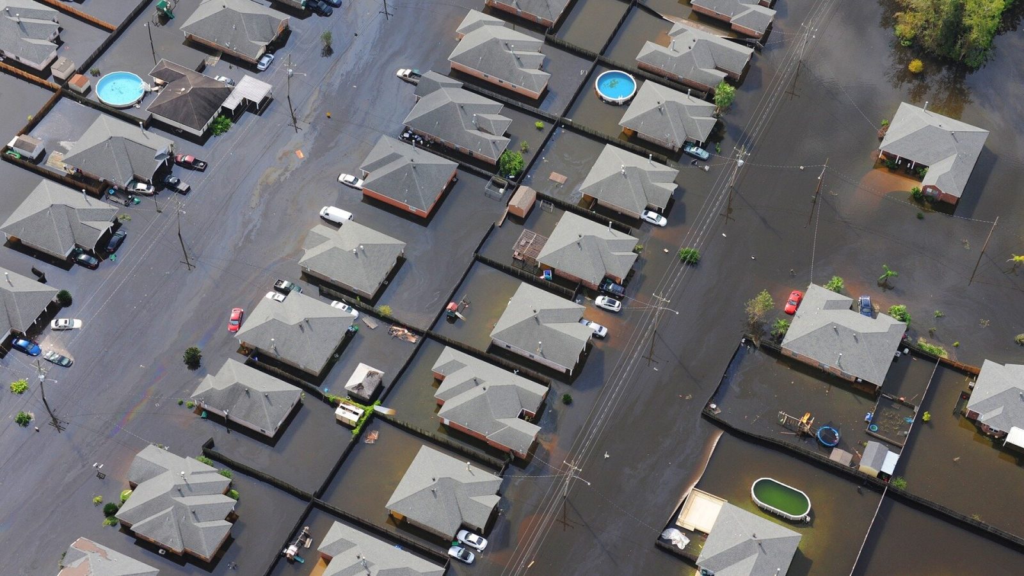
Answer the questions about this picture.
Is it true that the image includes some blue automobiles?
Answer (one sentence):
Yes, the image includes a blue automobile.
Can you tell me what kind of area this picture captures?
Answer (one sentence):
The picture captures a residential area.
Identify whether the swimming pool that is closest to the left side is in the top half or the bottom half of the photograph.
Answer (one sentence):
The top half of the photo is where the swimming pool that is closest to the left side is.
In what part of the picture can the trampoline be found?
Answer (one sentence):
Look in the bottom right portion of the view to spot the trampoline.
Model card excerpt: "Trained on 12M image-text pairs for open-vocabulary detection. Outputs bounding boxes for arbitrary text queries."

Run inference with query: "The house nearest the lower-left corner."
[60,536,159,576]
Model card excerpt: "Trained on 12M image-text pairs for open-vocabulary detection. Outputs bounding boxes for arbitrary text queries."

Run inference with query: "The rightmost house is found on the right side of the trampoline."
[963,358,1024,441]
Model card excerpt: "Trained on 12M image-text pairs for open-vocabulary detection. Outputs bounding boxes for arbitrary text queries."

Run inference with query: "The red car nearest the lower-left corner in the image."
[228,308,243,334]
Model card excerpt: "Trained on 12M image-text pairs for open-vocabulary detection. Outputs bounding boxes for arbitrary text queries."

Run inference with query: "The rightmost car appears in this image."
[859,294,874,317]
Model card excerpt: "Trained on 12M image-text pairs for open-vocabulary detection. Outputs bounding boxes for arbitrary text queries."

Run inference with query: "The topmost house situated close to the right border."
[877,101,989,207]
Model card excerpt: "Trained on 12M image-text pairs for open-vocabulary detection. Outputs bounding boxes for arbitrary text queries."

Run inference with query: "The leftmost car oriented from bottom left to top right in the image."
[103,231,129,254]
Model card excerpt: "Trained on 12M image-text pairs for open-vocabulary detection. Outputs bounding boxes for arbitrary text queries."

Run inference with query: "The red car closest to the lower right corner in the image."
[785,291,802,315]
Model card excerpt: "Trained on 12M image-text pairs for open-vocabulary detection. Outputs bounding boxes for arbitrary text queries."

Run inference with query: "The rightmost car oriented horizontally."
[682,146,710,161]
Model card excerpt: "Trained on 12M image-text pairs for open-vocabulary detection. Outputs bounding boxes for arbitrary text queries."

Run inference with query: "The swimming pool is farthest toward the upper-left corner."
[97,71,151,113]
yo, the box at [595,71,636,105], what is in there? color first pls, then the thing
blue swimming pool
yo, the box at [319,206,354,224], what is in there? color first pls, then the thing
white vehicle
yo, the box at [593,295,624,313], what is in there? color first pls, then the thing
white car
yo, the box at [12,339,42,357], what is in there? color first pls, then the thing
blue car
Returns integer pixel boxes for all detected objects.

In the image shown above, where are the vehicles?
[12,339,42,357]
[228,308,243,334]
[581,319,609,338]
[859,294,874,317]
[126,183,156,198]
[319,206,354,224]
[71,254,102,270]
[261,290,286,303]
[593,295,624,313]
[103,231,129,254]
[174,157,207,175]
[161,176,194,196]
[337,176,365,193]
[270,278,305,295]
[212,74,237,87]
[446,547,478,566]
[455,531,489,552]
[597,282,628,299]
[785,291,802,315]
[51,318,82,332]
[43,352,75,371]
[307,1,333,16]
[682,146,710,161]
[331,300,359,320]
[639,211,668,228]
[255,53,277,73]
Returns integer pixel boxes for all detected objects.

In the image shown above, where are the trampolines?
[816,427,838,450]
